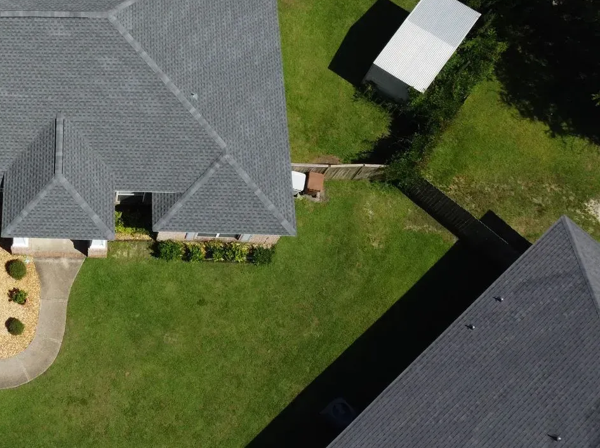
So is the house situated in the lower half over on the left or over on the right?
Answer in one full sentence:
It is on the right.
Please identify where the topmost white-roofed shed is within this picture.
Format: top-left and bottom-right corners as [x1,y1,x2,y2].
[364,0,482,107]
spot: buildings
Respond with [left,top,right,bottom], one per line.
[364,0,482,107]
[326,217,600,448]
[0,0,298,263]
